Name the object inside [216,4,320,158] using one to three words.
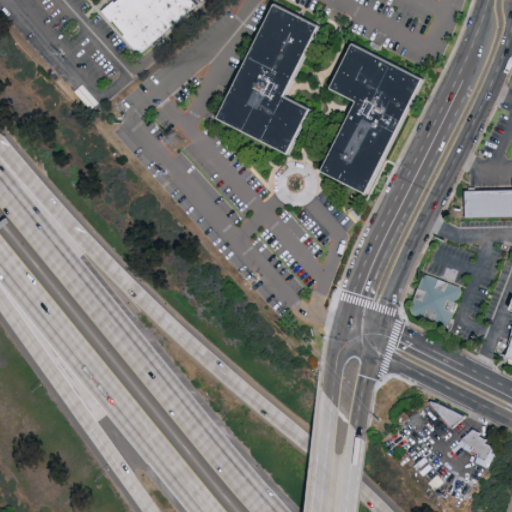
building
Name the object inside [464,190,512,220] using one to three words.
building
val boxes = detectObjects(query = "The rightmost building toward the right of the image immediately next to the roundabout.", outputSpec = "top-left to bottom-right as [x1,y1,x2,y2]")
[320,44,422,194]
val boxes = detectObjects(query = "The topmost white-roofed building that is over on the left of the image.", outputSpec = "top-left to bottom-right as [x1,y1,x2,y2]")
[100,0,202,56]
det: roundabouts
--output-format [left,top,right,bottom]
[272,160,319,206]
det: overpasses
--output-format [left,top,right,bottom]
[304,387,366,512]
